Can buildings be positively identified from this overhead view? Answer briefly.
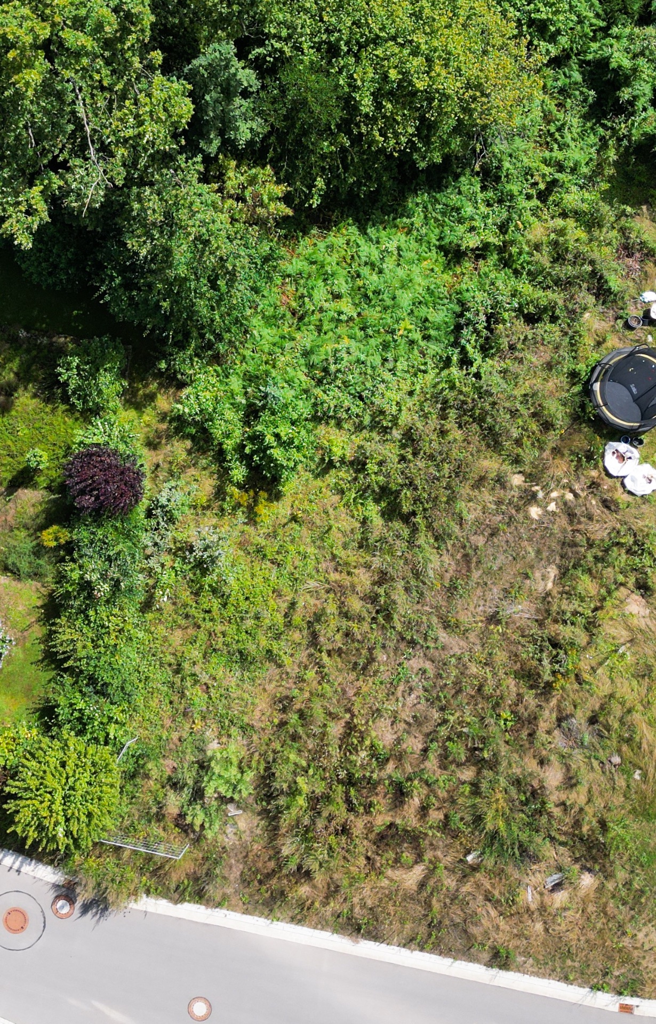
No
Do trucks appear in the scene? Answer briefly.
No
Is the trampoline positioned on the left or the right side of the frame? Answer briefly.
right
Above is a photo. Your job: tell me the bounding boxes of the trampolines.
[586,335,656,435]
